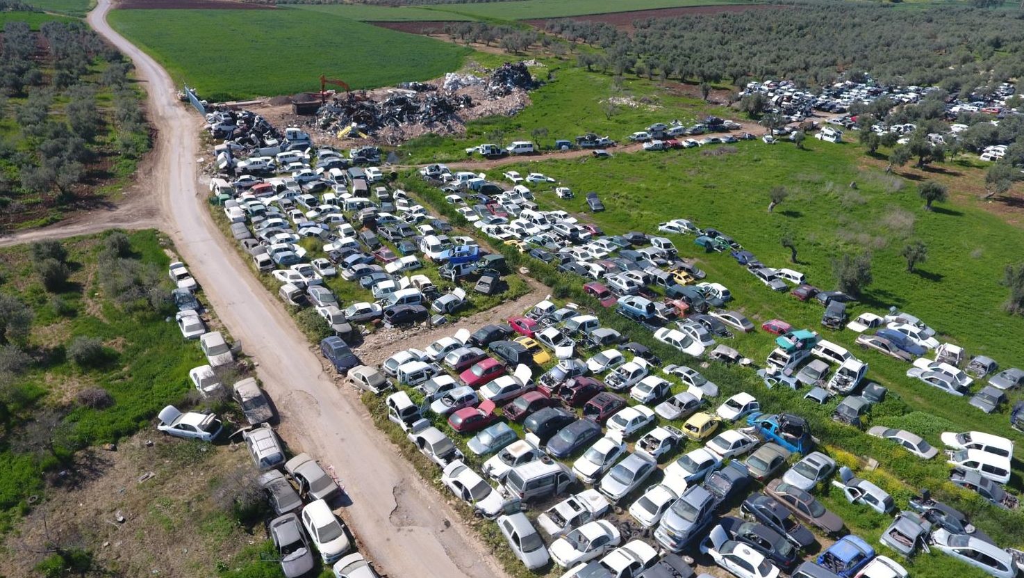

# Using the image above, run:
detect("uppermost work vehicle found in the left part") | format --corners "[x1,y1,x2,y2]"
[318,71,363,101]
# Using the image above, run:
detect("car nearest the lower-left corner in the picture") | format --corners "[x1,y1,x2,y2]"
[154,411,225,447]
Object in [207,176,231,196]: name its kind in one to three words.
vehicle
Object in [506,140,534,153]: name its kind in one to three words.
vehicle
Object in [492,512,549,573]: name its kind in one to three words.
car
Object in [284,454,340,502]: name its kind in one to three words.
car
